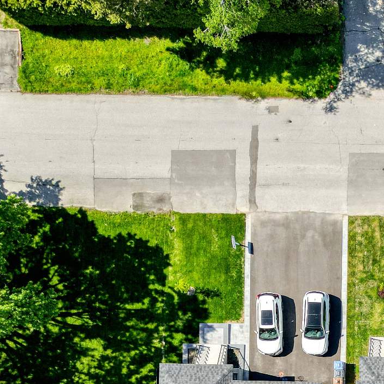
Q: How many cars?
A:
two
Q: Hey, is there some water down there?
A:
No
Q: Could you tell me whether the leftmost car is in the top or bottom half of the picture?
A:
bottom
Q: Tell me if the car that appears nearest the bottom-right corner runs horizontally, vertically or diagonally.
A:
vertically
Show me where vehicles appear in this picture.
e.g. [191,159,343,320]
[252,291,284,355]
[298,290,331,356]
